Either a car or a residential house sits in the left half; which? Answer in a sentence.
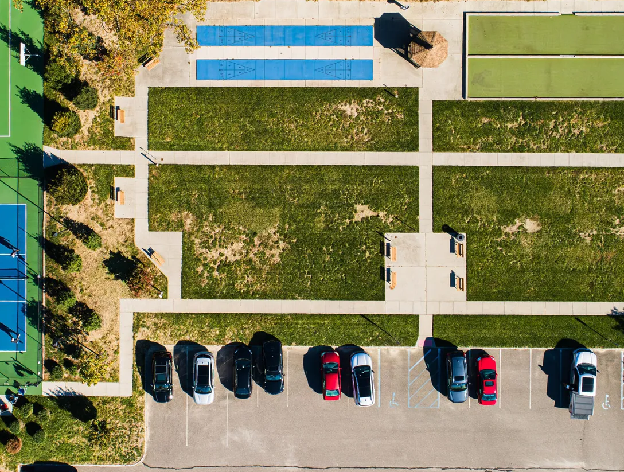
Looking in the left half, you will find a car.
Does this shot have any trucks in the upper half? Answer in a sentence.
No, I can find no truck in the upper half.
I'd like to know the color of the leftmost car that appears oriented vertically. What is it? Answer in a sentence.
The leftmost car that appears oriented vertically is black.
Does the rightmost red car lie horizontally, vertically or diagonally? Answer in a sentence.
The rightmost red car has been laid out vertically relative to the frame.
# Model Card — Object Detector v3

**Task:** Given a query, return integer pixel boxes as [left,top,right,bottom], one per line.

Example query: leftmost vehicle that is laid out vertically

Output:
[150,350,175,401]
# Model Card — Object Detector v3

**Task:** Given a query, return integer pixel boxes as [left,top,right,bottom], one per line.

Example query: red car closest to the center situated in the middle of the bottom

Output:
[319,350,342,399]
